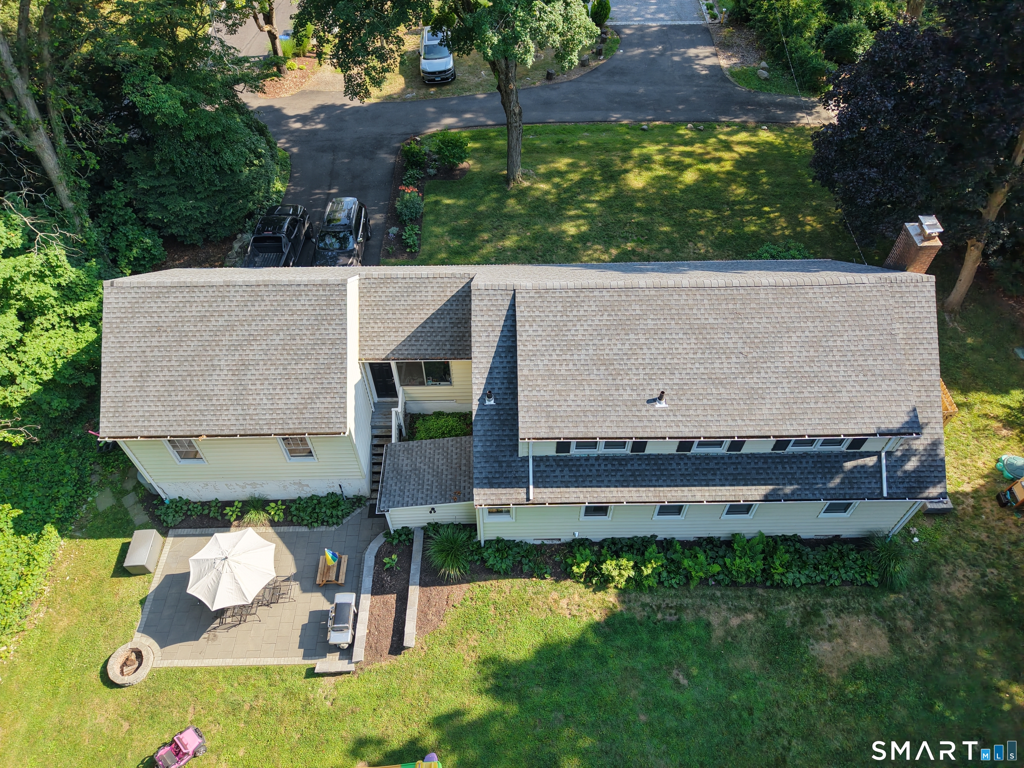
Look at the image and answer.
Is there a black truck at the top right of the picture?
No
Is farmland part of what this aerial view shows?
No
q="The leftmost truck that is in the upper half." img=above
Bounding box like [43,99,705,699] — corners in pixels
[243,209,315,266]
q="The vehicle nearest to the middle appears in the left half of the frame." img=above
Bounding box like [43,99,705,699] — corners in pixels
[313,196,374,265]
